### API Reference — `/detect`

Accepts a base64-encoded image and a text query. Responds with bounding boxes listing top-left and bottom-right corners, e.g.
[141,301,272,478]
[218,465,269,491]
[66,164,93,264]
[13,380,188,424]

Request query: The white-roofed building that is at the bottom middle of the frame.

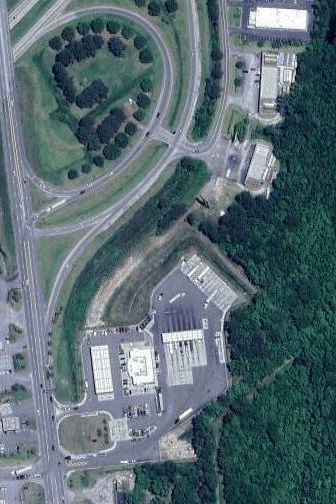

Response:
[127,349,155,387]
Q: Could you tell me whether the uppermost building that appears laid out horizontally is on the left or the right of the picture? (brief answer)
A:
right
